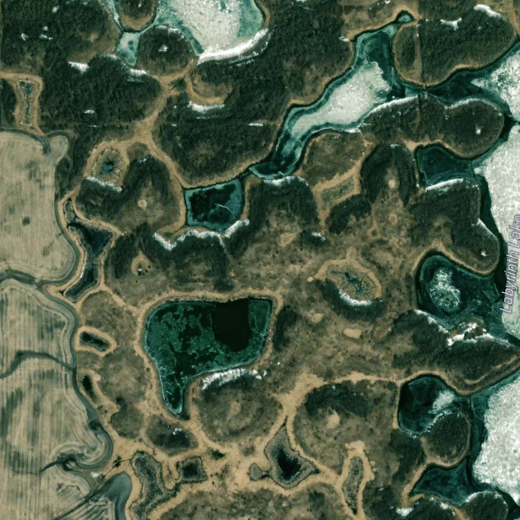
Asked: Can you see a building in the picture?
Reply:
No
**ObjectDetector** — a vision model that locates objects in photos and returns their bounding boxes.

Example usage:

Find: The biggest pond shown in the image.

[144,298,272,415]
